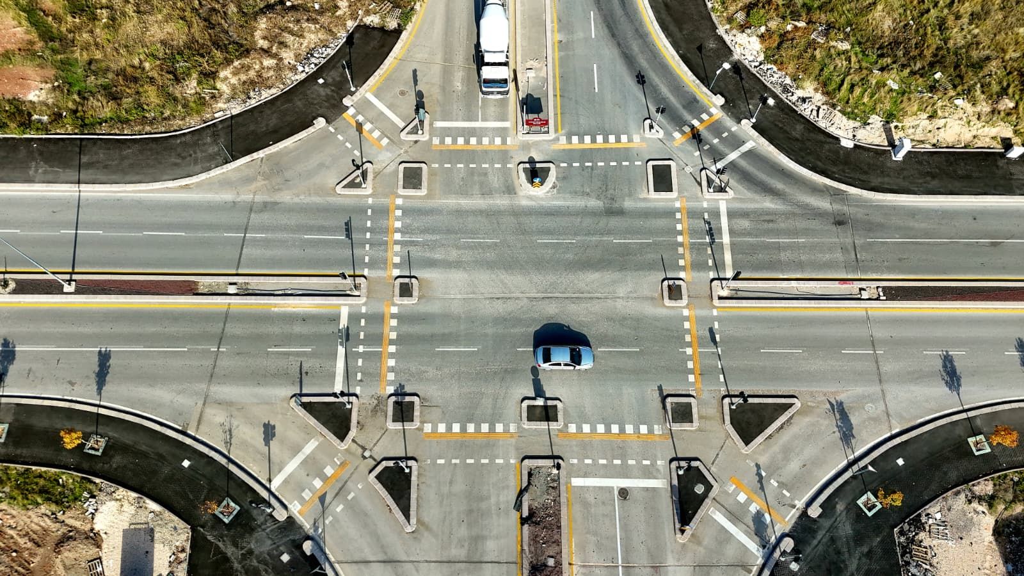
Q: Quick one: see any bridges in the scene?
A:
No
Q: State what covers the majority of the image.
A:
paved ground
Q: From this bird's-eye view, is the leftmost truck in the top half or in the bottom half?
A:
top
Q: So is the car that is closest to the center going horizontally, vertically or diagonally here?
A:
horizontally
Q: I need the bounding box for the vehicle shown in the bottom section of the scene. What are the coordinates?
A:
[534,344,594,372]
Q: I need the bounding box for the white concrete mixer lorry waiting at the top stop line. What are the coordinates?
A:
[477,0,512,98]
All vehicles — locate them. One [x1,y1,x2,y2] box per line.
[534,344,594,372]
[477,0,512,98]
